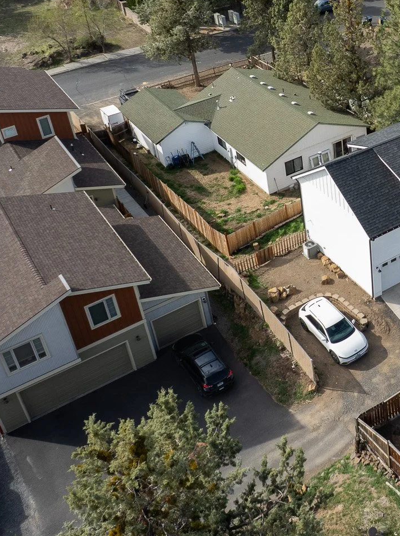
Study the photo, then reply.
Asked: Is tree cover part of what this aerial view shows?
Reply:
Yes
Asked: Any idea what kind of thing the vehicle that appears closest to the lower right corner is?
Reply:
automobile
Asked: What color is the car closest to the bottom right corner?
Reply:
white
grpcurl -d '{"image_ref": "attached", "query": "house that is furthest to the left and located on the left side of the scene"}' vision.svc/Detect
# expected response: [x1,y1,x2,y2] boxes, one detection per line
[0,69,224,434]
